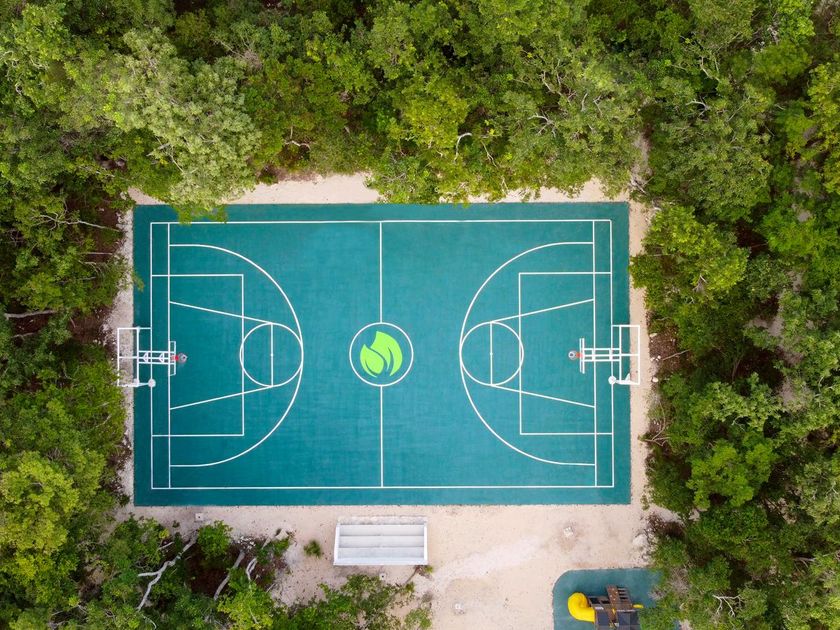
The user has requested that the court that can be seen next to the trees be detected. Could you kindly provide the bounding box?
[133,202,631,507]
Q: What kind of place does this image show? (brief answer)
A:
sports ground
